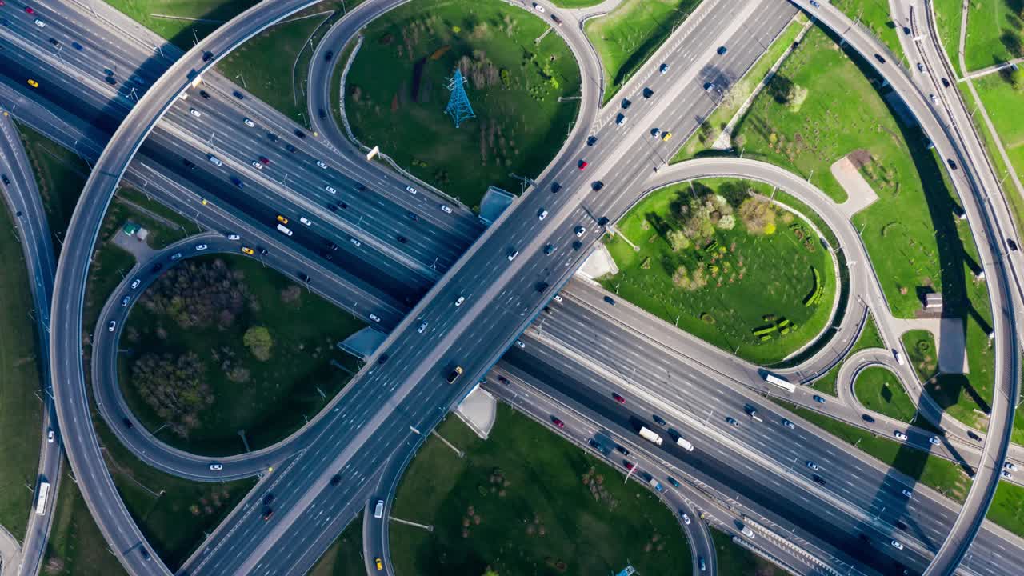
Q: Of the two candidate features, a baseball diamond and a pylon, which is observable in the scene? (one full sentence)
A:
Of the two, only a pylon appears.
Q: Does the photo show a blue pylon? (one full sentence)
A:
Yes, you can see a blue pylon in this photo.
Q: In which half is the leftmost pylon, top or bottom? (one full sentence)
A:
It is in the top half that the leftmost pylon appears.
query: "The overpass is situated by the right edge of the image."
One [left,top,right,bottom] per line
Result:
[791,0,1020,576]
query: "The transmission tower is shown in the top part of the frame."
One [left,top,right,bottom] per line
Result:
[443,69,477,129]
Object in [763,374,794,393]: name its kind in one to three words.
vehicle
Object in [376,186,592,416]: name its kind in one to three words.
bridge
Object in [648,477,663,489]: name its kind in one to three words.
vehicle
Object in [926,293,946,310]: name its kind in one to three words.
shed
